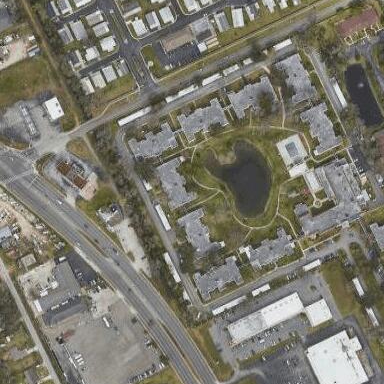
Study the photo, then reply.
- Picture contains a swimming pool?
Yes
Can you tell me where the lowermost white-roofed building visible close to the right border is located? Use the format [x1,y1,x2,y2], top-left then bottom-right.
[306,330,369,384]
